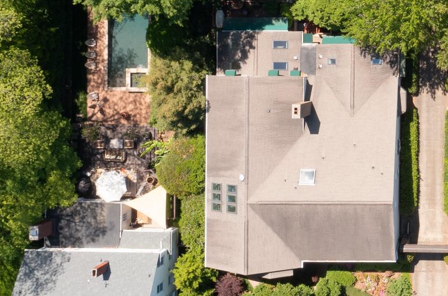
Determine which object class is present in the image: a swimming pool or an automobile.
swimming pool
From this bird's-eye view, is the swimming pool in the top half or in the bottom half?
top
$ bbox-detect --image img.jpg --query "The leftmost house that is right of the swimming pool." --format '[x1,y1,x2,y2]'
[205,18,406,278]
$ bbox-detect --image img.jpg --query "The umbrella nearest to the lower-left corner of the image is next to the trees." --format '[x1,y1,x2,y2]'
[90,173,122,200]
